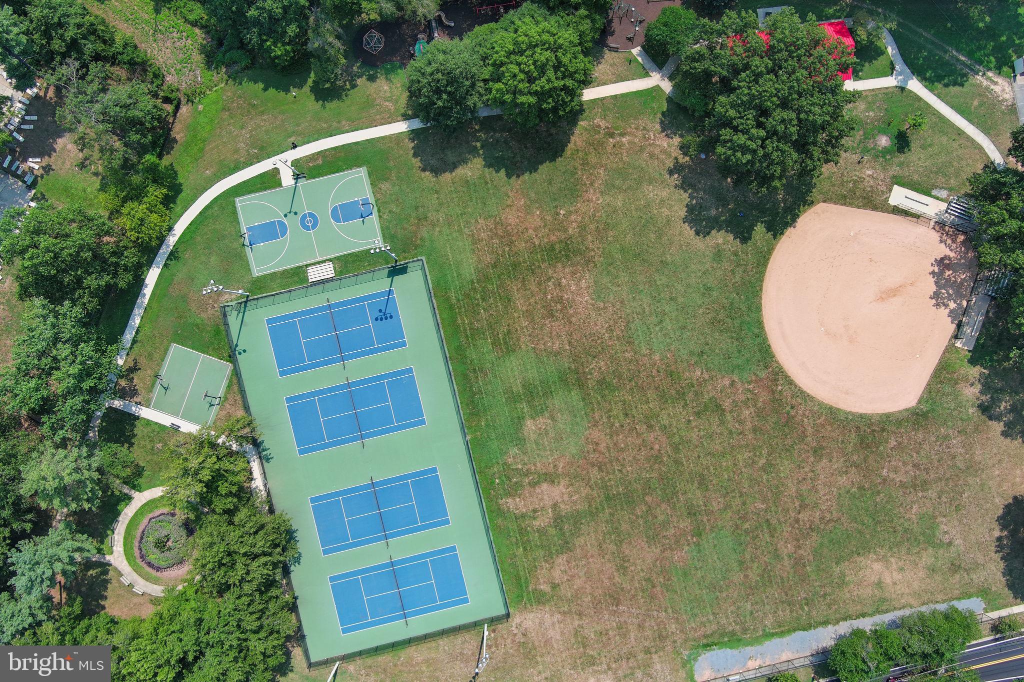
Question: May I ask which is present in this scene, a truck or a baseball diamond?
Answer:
baseball diamond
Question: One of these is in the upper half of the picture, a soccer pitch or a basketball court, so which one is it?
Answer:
basketball court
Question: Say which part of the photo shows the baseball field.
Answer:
right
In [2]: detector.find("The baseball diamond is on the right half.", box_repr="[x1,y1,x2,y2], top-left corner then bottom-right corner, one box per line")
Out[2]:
[761,202,977,414]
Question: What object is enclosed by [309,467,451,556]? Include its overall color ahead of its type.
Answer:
blue tennis court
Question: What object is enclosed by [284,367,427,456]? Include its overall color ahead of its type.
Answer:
blue tennis court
